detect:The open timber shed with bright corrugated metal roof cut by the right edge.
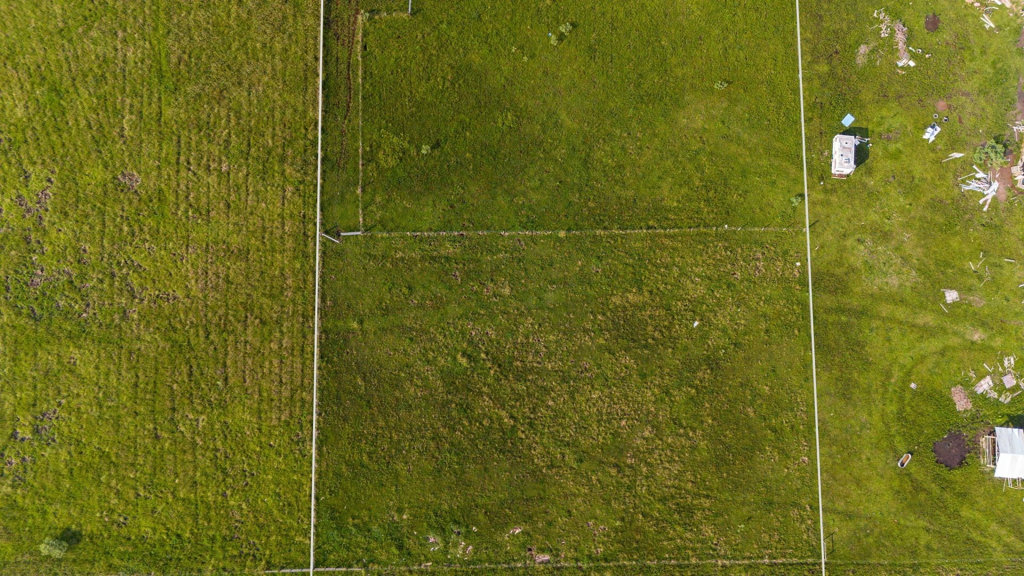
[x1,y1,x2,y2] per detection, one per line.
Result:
[980,428,1024,478]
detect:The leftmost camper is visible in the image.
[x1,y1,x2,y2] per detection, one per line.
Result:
[830,135,854,180]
